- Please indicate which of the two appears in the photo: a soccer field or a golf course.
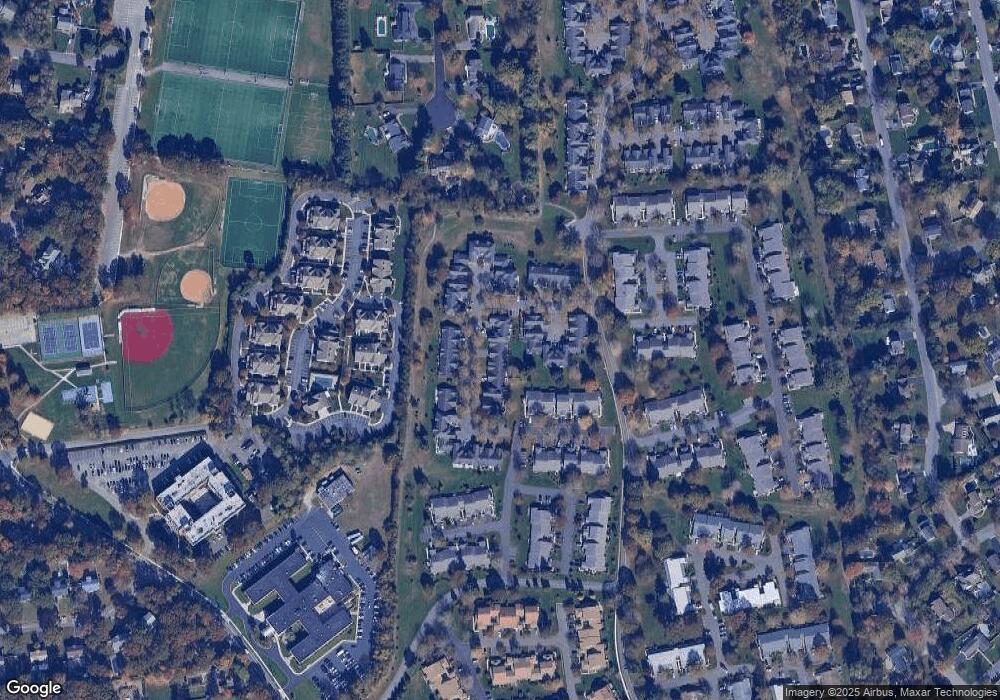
soccer field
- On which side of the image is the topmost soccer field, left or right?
left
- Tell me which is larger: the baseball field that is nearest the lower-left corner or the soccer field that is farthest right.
the baseball field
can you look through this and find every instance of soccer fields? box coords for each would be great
[162,0,303,82]
[151,70,289,164]
[220,175,287,269]
[286,84,332,162]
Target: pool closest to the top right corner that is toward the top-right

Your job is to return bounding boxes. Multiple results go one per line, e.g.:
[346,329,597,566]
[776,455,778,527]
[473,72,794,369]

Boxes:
[931,33,945,53]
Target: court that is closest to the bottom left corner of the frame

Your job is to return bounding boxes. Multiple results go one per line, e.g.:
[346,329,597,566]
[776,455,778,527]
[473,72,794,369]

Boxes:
[21,413,54,439]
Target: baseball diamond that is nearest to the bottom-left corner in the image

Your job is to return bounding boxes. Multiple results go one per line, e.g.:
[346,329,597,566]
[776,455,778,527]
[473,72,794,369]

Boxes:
[117,307,221,411]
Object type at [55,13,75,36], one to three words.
house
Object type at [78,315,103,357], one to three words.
basketball court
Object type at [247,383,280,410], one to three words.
building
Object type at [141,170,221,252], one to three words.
baseball field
